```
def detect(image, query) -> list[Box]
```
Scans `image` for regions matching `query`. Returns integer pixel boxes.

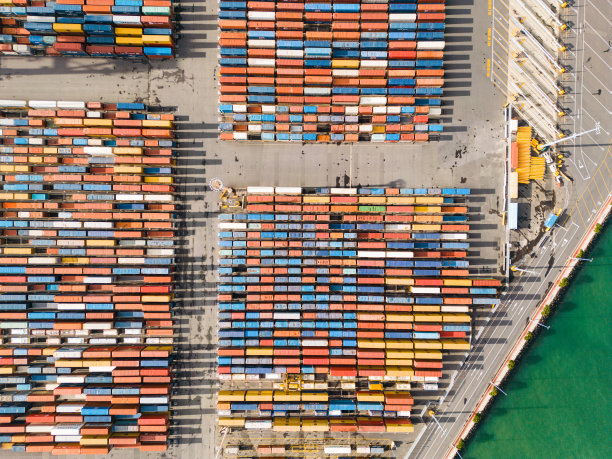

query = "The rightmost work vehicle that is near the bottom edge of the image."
[376,434,395,457]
